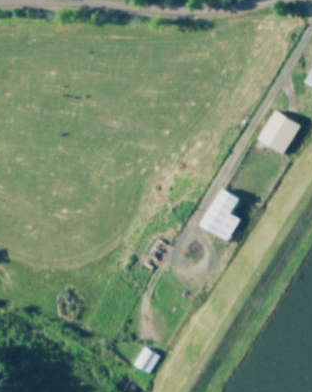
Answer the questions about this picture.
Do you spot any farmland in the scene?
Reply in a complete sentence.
Yes, there is farmland in the image.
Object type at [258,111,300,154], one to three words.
barn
